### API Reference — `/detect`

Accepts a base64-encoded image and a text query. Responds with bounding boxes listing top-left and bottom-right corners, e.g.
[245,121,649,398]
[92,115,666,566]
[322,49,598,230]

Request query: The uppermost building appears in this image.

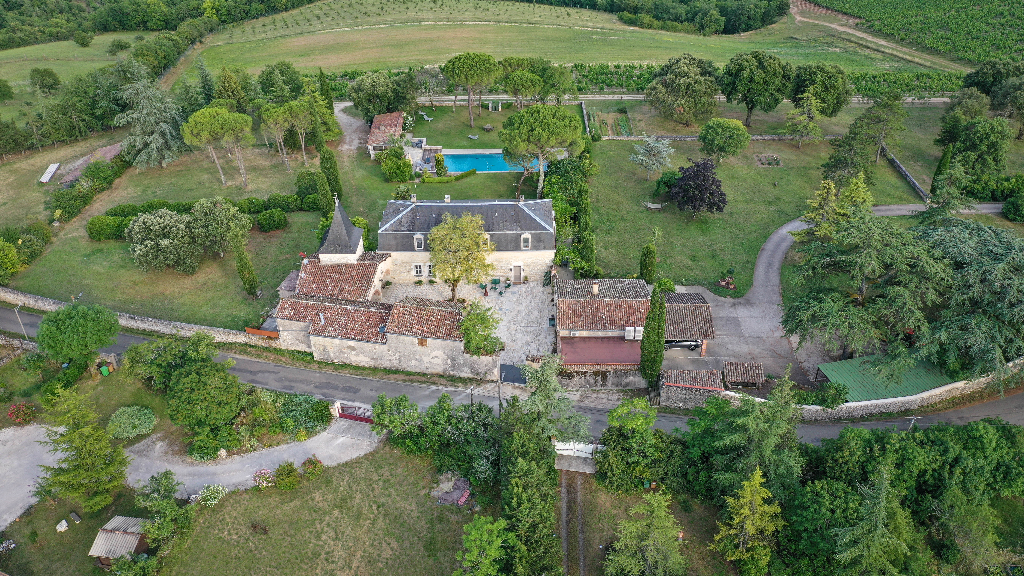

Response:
[367,111,413,162]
